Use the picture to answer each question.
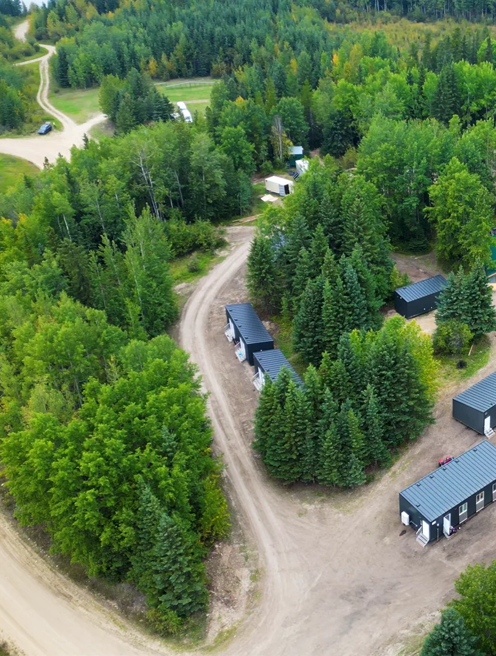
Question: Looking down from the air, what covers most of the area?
trees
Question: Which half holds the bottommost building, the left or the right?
right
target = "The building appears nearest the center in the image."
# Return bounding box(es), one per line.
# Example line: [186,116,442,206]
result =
[220,300,274,363]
